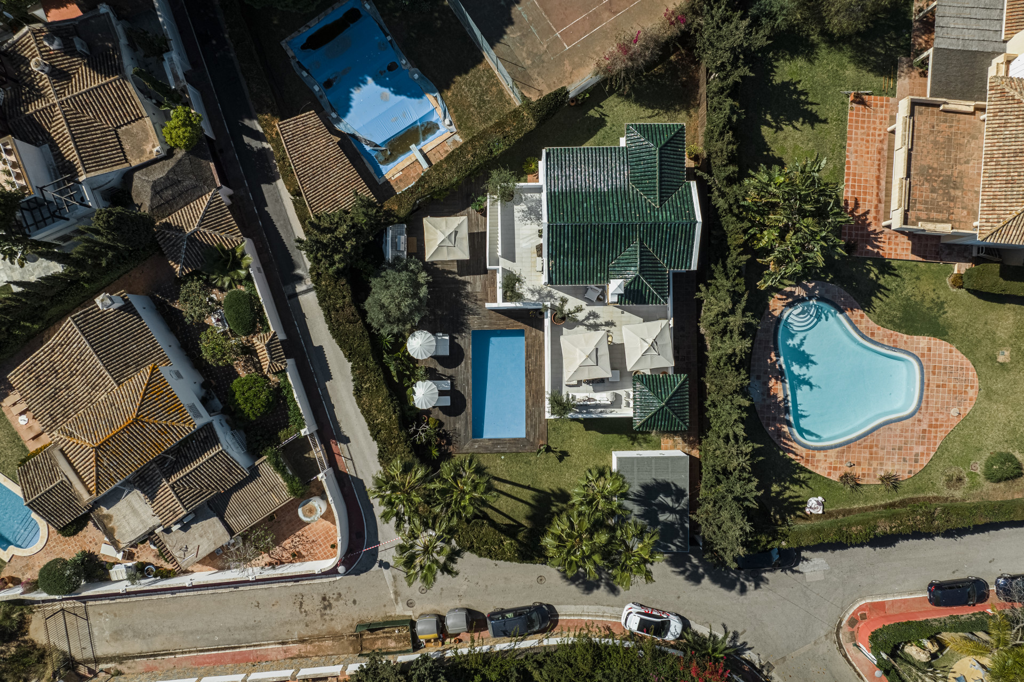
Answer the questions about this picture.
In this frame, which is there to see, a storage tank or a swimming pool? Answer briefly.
swimming pool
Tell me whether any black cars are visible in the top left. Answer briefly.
No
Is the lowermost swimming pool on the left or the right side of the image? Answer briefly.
left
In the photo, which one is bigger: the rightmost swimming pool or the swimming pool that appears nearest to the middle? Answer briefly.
the rightmost swimming pool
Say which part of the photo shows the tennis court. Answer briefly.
top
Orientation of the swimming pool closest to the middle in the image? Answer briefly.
up and down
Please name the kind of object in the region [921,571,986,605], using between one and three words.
car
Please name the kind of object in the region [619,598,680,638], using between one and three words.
car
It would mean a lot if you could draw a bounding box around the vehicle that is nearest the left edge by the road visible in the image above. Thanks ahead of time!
[487,599,550,635]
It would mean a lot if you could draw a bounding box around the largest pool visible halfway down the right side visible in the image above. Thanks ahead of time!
[777,297,926,448]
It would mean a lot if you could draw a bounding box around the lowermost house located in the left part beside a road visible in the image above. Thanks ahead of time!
[6,287,295,571]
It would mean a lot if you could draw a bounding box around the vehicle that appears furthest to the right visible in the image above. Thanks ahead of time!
[988,572,1024,602]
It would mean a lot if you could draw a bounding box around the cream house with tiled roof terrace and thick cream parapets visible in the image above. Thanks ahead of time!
[878,0,1024,265]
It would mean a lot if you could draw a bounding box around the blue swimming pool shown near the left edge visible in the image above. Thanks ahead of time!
[0,476,43,558]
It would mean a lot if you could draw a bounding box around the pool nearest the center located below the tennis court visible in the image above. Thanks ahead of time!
[471,329,526,439]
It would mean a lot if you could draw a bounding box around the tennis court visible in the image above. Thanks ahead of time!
[479,0,698,97]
